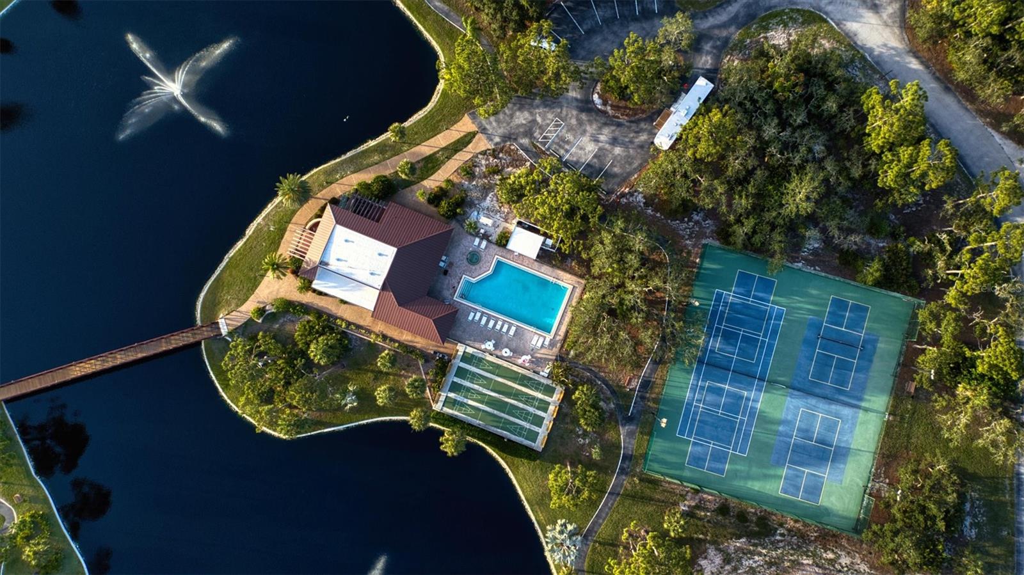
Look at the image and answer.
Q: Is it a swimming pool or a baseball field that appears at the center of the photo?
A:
swimming pool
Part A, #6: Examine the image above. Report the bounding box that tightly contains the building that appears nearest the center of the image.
[506,226,544,259]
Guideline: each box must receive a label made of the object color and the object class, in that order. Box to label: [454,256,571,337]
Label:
blue swimming pool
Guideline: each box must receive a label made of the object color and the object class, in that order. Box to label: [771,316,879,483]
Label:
blue tennis court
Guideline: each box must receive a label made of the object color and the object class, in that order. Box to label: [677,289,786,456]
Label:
blue tennis court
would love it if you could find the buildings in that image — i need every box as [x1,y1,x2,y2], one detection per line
[299,202,458,345]
[506,226,544,259]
